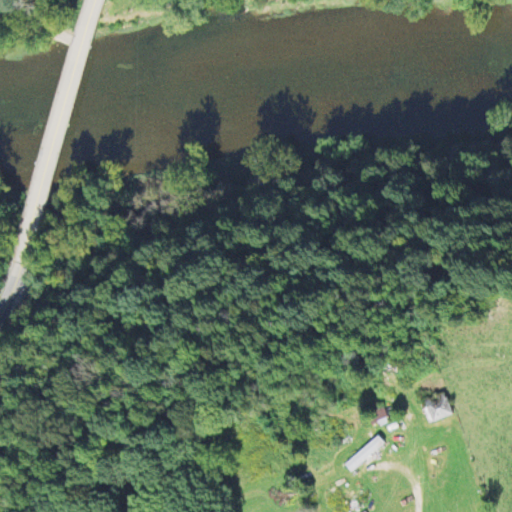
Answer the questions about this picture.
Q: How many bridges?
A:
1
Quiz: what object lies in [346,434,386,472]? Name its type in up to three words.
shed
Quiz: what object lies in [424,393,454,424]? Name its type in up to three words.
house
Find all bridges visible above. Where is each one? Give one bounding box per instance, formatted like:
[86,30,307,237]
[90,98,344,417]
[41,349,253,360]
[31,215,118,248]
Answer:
[33,32,94,187]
